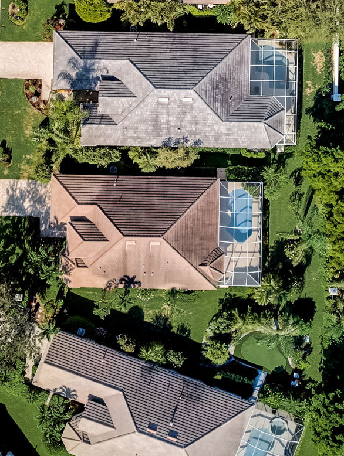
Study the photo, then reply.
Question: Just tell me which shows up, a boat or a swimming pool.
swimming pool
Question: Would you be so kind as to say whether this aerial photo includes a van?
No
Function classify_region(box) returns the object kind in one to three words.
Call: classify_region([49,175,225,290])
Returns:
house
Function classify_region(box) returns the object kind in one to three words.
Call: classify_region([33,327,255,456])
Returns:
house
